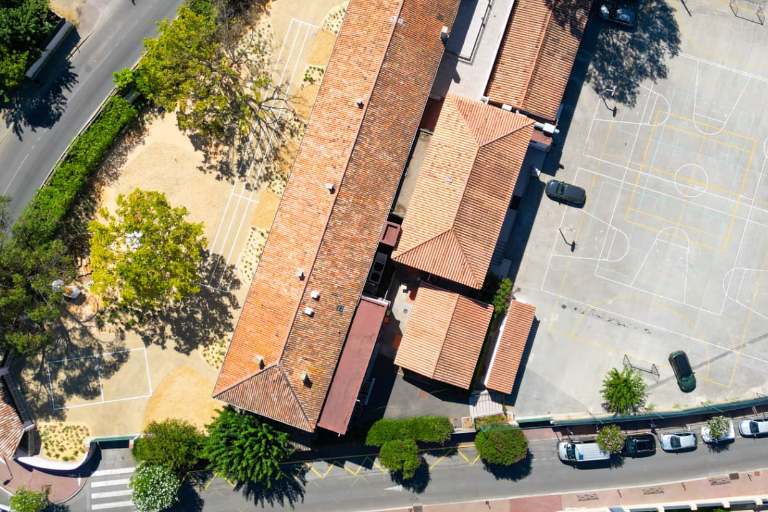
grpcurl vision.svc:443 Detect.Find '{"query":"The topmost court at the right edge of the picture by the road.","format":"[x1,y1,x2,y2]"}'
[478,0,768,422]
